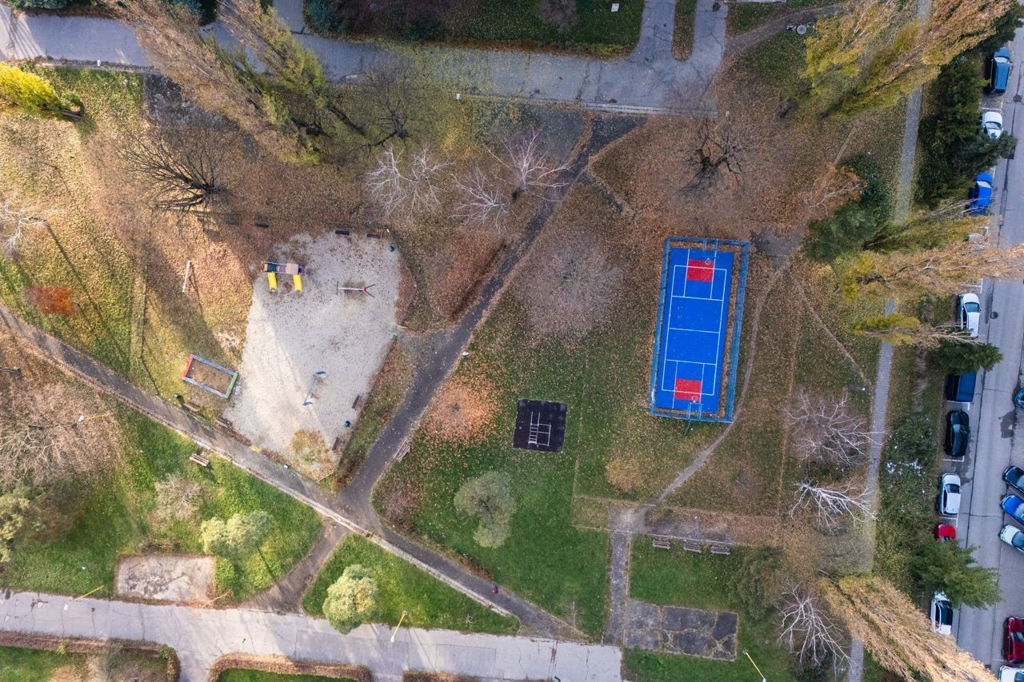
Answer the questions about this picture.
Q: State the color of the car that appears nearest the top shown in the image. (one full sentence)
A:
The car that appears nearest the top looks blue in the image.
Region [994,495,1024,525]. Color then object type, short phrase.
blue car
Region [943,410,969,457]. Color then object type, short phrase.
black car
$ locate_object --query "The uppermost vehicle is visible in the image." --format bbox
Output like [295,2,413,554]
[983,48,1013,97]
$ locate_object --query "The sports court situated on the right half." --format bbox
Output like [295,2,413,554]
[656,247,734,414]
